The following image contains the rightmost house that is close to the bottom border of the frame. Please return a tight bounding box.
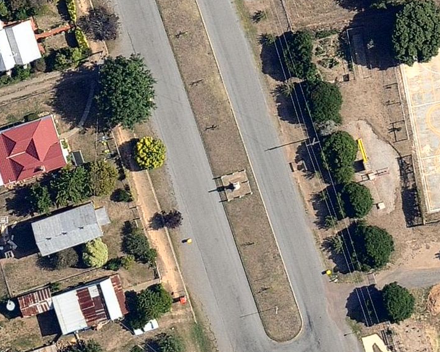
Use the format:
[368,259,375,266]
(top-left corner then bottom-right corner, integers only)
[52,276,129,335]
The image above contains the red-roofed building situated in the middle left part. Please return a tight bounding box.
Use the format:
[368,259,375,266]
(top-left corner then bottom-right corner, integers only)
[0,116,68,185]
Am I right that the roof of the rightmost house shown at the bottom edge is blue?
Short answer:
No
